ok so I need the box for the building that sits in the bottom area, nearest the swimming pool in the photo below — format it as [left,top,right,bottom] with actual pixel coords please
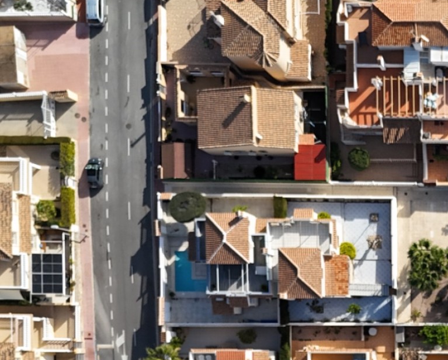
[188,209,292,315]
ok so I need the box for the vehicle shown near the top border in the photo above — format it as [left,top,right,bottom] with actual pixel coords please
[87,0,105,28]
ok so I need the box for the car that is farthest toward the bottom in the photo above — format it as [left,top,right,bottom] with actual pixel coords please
[87,159,104,189]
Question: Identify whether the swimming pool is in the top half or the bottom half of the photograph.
bottom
